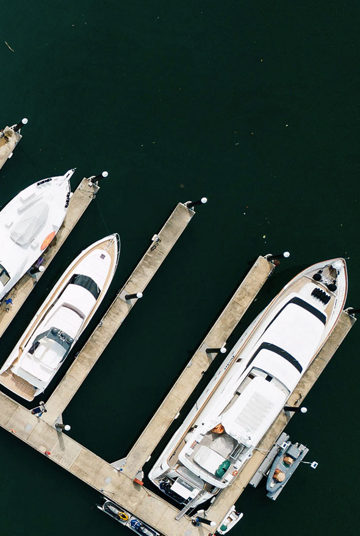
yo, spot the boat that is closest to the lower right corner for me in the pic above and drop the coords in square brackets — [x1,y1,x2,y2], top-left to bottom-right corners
[267,437,318,493]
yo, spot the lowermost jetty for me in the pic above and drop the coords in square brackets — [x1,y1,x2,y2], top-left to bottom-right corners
[95,497,159,536]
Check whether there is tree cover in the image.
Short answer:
No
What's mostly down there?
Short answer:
water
